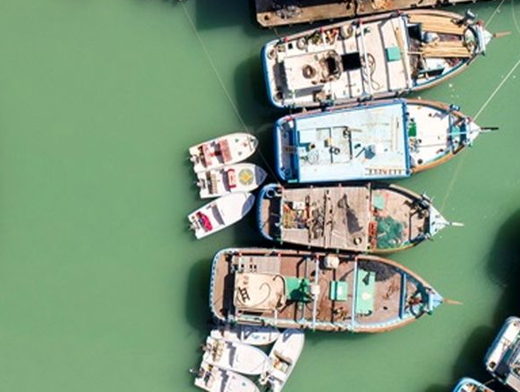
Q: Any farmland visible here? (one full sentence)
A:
No, the picture contains no farmland.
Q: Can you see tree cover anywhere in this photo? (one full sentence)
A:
No, tree cover can't be seen anywhere here.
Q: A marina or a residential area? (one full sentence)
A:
The area seen from above is a marina.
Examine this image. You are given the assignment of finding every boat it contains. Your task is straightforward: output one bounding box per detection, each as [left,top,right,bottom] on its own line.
[206,321,280,347]
[194,164,268,198]
[445,374,494,392]
[256,178,469,253]
[194,362,261,392]
[210,247,465,334]
[274,96,505,189]
[261,329,300,392]
[200,336,268,370]
[187,135,258,172]
[187,190,255,239]
[485,320,520,389]
[259,9,518,110]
